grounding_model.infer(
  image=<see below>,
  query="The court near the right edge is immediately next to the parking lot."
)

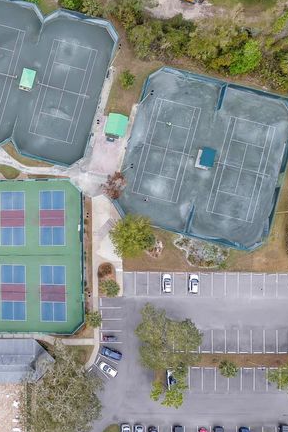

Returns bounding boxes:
[180,88,288,249]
